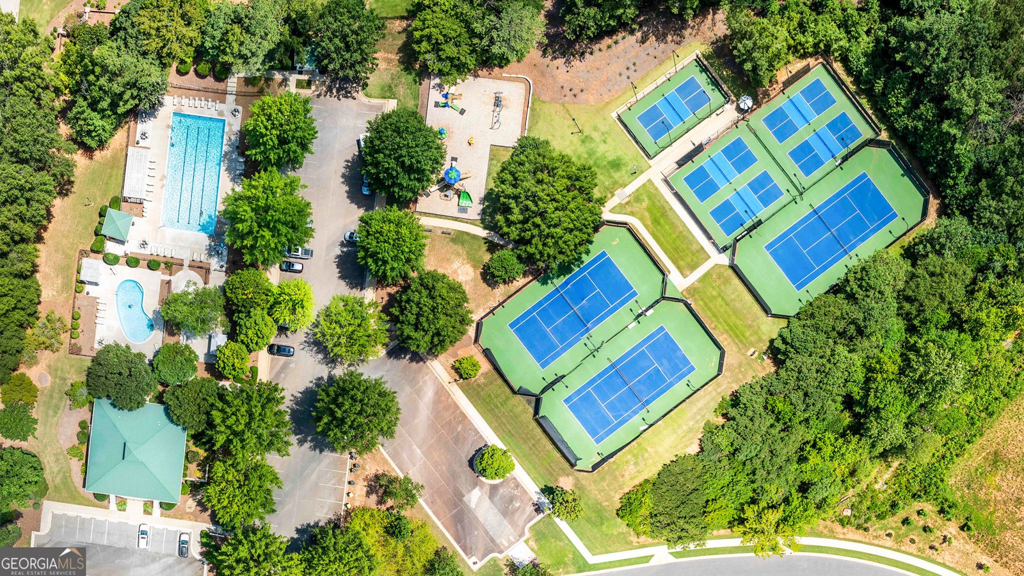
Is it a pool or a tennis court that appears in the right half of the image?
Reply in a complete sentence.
You can see a tennis court in the right half of the image.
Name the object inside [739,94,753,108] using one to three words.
umbrella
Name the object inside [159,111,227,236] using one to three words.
swimming pool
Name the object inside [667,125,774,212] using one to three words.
sports court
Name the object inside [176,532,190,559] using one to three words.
car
